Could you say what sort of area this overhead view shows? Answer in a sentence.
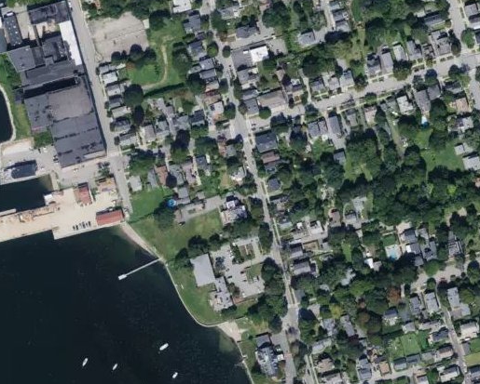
The picture captures a residential area.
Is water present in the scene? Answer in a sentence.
Yes, there's water in this view.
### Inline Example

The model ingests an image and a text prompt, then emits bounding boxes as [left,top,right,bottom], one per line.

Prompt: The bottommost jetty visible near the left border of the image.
[0,185,122,242]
